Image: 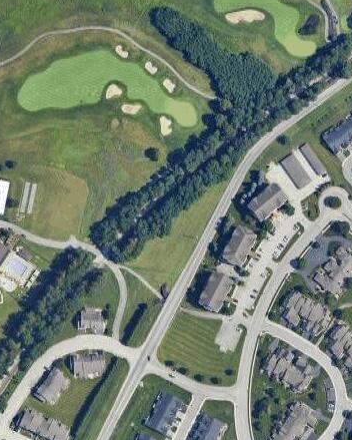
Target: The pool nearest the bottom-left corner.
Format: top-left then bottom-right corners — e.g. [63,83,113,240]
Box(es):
[1,277,17,292]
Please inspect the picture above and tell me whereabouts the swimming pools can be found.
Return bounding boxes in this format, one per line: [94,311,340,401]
[0,251,37,287]
[1,277,17,292]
